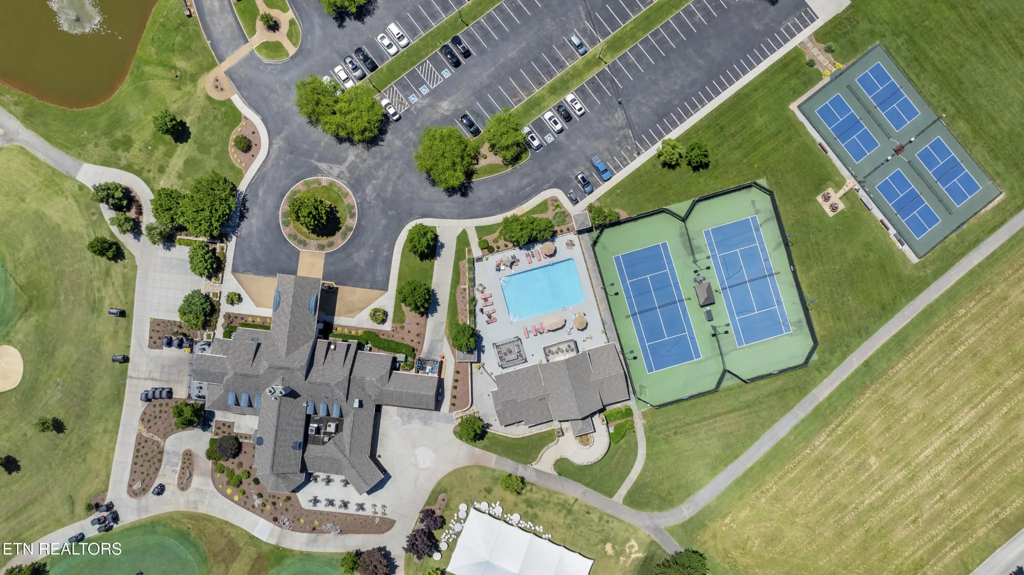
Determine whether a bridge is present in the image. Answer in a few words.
No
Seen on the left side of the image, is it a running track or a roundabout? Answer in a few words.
roundabout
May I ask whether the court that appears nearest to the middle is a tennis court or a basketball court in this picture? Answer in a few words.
tennis court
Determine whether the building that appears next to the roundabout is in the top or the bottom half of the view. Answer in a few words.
bottom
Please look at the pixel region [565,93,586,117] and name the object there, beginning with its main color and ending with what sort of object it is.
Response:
white car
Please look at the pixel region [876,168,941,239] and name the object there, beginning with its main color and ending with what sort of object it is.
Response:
blue sports court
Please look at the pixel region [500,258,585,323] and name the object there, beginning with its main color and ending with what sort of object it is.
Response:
blue swimming pool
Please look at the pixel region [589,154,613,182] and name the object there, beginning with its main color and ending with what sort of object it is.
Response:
blue truck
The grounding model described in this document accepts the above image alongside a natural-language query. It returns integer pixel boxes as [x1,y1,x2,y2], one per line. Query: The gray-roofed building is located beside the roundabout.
[191,274,440,495]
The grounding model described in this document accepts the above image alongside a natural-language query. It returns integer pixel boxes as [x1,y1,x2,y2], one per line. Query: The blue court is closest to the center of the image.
[613,242,702,374]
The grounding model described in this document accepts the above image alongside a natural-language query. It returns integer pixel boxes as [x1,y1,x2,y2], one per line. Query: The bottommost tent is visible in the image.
[435,493,598,575]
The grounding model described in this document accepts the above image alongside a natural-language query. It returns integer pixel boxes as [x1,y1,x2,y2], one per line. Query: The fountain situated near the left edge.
[47,0,124,52]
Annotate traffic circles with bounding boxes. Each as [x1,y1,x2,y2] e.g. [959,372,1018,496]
[279,176,357,253]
